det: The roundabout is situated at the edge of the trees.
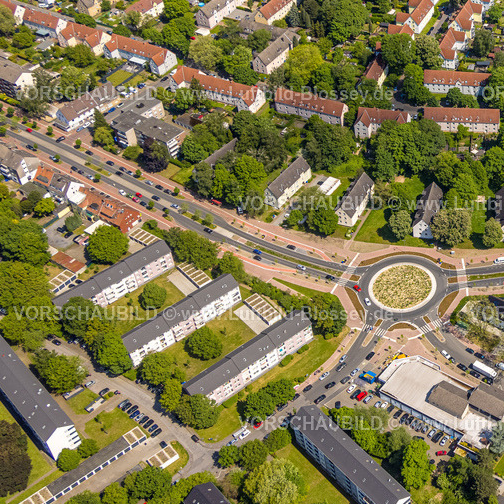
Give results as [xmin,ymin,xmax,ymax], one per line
[358,255,448,320]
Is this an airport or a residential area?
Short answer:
residential area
